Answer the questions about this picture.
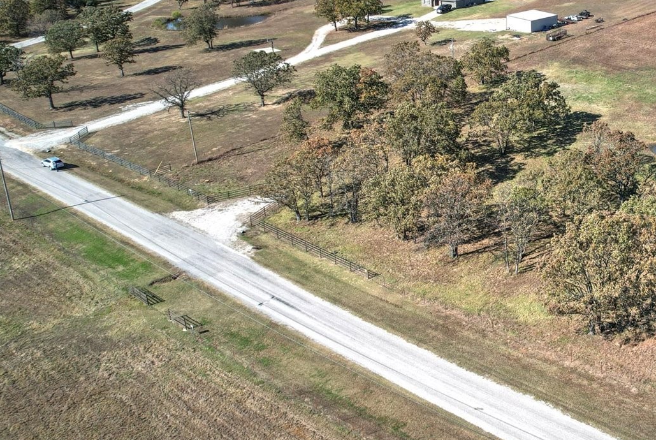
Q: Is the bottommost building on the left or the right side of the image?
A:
right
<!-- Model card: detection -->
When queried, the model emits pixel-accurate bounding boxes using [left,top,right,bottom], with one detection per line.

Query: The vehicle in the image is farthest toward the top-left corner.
[41,154,65,169]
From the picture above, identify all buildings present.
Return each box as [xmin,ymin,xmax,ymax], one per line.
[422,0,482,8]
[505,11,558,33]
